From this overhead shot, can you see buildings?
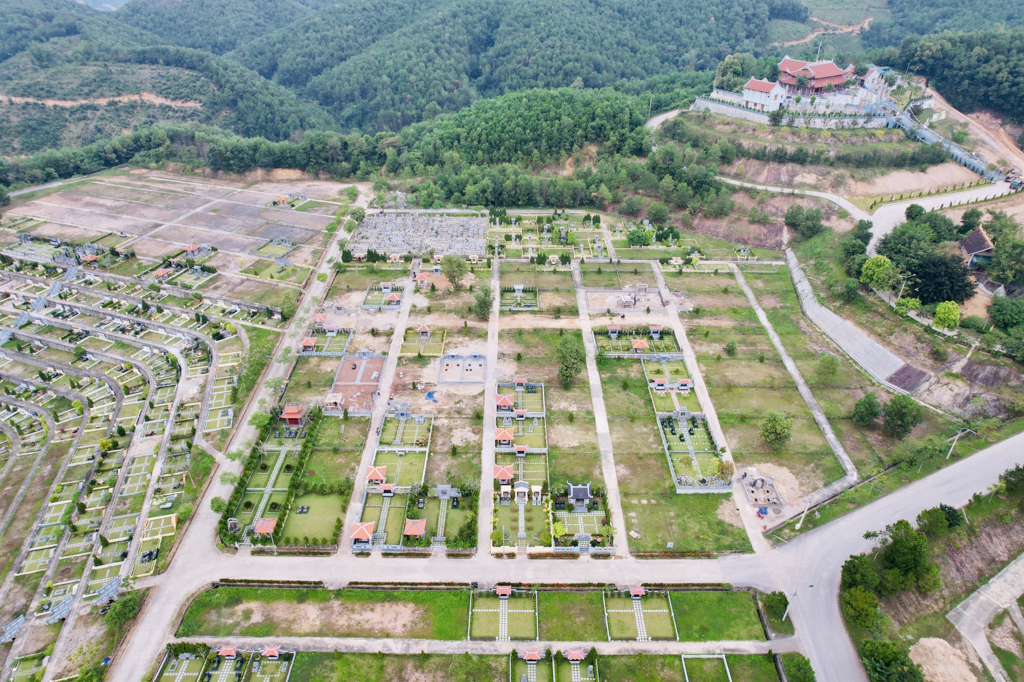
Yes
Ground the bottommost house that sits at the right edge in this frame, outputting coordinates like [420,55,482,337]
[960,221,1001,271]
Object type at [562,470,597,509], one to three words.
building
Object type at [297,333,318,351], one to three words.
gazebo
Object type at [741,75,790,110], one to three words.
house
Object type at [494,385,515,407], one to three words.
gazebo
